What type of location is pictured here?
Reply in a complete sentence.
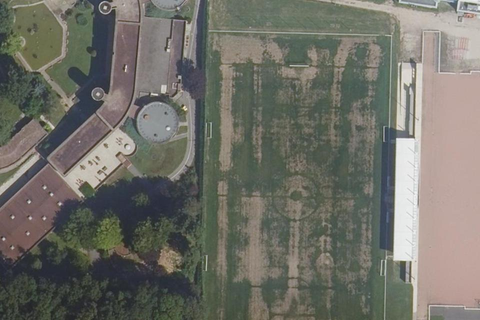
The picture captures a sports ground.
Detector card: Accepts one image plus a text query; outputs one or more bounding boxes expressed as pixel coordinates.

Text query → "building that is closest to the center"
[136,100,179,144]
